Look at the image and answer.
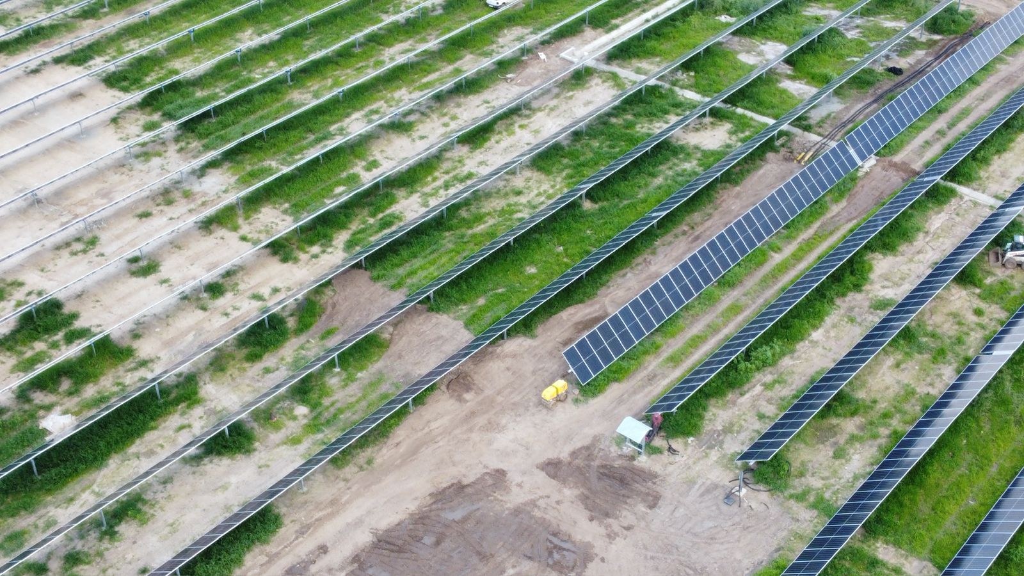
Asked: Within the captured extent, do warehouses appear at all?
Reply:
No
